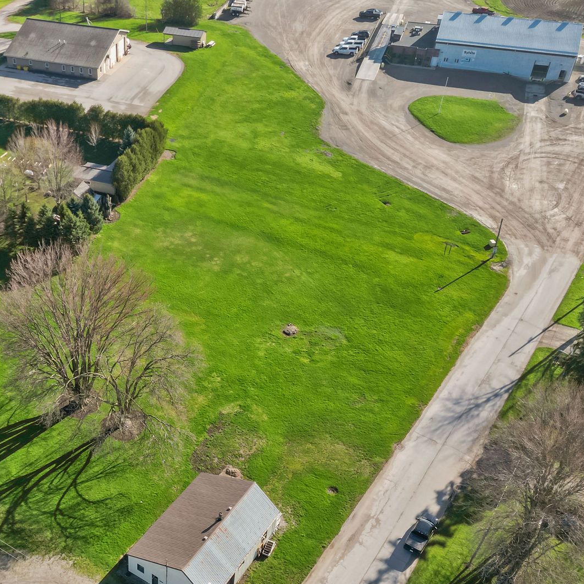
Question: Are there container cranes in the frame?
No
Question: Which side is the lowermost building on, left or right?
left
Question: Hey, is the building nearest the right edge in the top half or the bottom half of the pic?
top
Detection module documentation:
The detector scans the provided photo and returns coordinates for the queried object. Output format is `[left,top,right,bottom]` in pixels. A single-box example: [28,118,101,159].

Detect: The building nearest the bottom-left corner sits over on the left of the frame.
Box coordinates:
[125,472,283,584]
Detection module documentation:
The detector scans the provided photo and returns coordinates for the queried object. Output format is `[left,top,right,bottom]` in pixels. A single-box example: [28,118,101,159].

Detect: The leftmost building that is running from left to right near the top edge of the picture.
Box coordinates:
[4,19,144,81]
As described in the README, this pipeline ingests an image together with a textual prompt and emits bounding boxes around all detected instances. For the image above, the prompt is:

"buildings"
[163,24,206,50]
[125,472,283,584]
[435,8,580,82]
[4,19,144,81]
[78,157,119,199]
